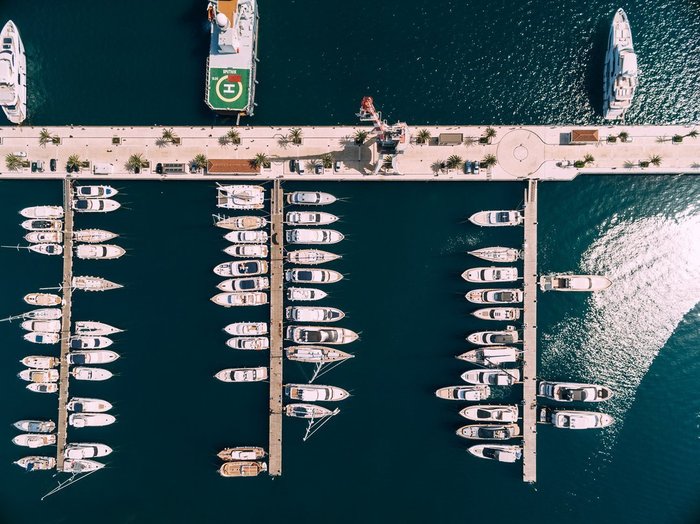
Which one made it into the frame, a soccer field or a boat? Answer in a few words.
boat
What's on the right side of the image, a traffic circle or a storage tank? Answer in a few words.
traffic circle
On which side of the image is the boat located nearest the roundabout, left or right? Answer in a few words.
right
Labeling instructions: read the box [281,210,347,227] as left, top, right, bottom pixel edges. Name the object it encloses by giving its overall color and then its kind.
white boat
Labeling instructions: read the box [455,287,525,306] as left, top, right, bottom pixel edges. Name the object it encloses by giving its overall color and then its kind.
white boat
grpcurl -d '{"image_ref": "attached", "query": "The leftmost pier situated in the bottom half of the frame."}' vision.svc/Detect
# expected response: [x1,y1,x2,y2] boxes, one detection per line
[56,182,75,471]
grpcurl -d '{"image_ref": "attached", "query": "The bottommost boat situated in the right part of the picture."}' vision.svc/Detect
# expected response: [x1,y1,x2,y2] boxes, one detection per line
[458,443,522,463]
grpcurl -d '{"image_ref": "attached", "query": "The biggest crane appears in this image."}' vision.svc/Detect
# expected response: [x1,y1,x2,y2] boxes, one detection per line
[357,97,409,174]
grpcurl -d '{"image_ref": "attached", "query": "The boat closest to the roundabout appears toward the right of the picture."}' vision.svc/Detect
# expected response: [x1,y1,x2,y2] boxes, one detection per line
[460,208,526,228]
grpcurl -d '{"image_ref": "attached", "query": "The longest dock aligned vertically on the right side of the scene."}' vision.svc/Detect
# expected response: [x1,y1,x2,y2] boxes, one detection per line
[522,203,537,482]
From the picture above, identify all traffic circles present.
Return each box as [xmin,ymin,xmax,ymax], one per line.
[496,128,545,177]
